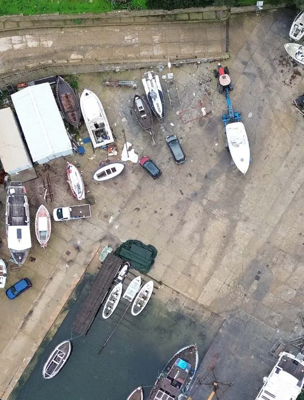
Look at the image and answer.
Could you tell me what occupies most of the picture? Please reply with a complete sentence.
For the most part, this view shows paved ground.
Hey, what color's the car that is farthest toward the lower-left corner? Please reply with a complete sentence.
The car that is farthest toward the lower-left corner is blue.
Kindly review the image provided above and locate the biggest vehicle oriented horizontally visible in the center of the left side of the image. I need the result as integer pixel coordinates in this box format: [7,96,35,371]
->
[54,203,92,223]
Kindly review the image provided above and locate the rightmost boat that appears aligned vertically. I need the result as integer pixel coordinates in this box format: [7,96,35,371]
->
[290,13,304,43]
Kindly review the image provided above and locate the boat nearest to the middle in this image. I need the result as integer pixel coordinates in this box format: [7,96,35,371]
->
[93,163,124,181]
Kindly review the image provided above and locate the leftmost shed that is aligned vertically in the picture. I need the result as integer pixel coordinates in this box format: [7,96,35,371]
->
[0,107,36,177]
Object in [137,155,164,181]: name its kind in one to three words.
car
